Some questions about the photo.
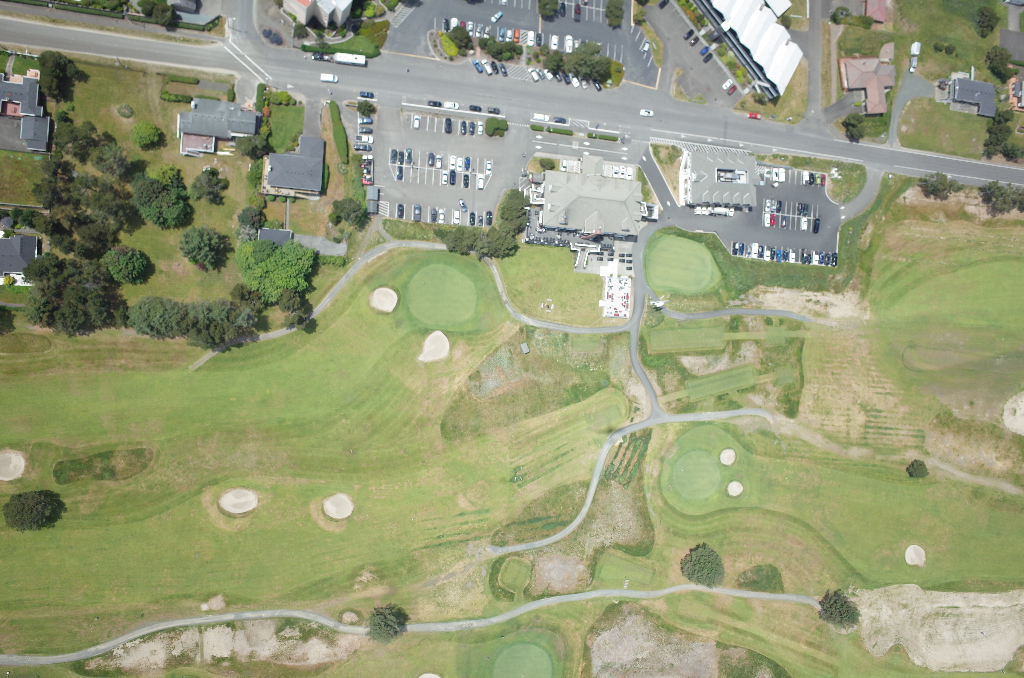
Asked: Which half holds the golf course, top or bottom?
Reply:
bottom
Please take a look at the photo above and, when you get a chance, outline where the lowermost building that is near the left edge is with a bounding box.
[0,235,42,277]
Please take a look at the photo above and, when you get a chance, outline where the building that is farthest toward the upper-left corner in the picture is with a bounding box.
[0,73,47,116]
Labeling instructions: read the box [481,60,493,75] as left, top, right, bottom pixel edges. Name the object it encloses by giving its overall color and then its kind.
white vehicle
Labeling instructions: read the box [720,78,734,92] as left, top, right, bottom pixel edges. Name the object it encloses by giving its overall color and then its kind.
white car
